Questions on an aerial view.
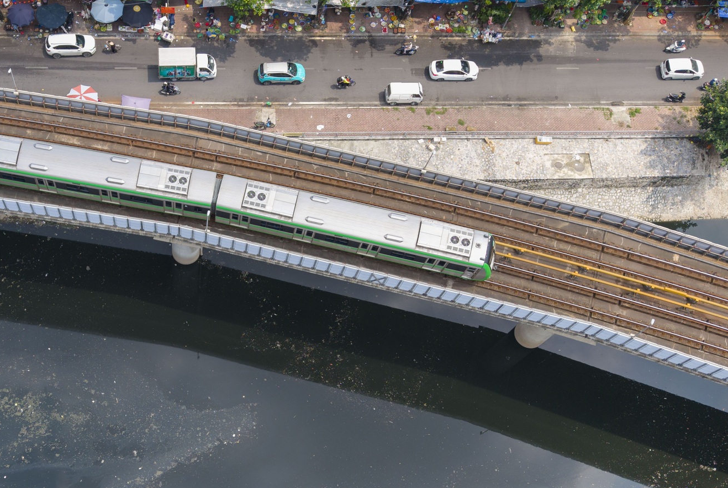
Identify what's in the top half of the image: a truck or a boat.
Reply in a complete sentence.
The one visible in the top half of the image is a truck.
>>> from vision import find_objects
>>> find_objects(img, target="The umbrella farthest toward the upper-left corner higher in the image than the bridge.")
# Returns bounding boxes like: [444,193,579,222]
[7,4,35,32]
